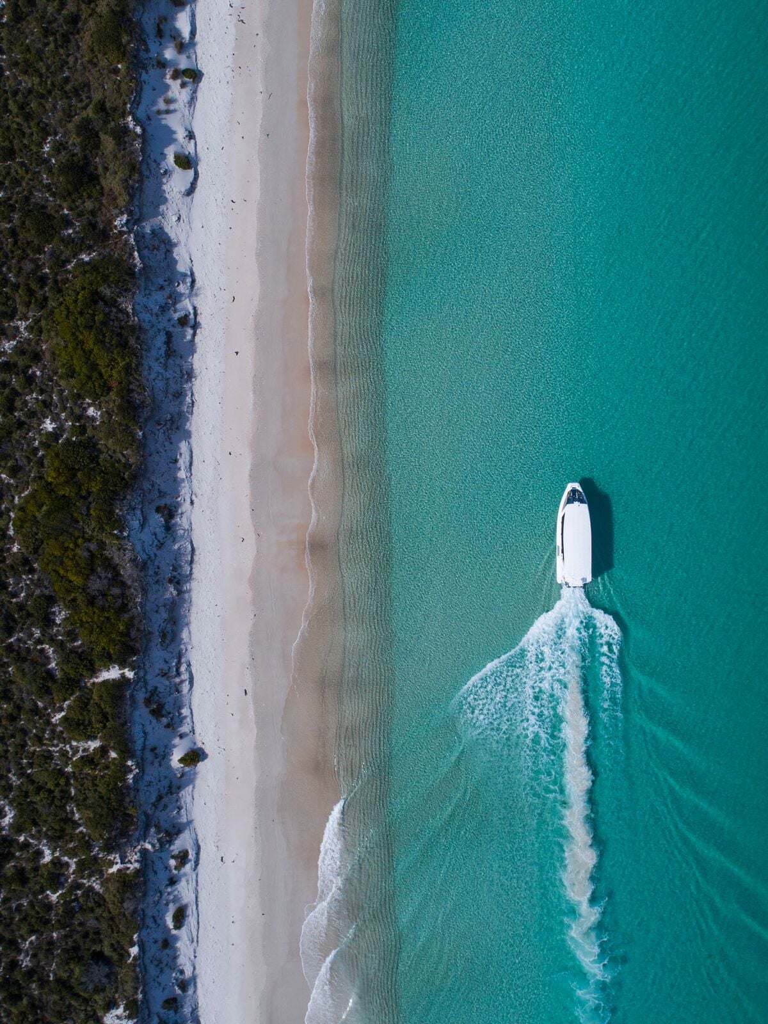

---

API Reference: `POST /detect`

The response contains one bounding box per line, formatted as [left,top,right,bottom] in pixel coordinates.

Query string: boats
[556,482,592,588]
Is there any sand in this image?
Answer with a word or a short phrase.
Yes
